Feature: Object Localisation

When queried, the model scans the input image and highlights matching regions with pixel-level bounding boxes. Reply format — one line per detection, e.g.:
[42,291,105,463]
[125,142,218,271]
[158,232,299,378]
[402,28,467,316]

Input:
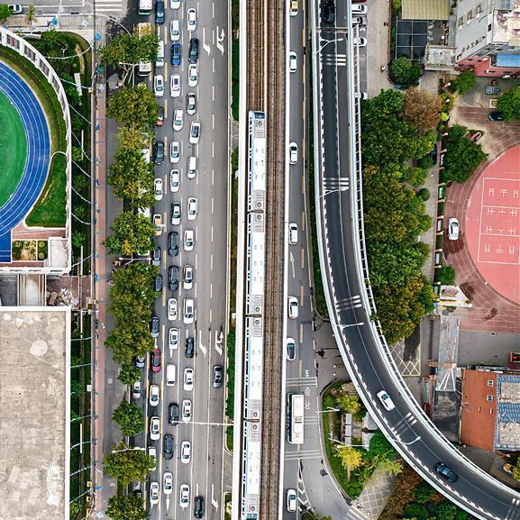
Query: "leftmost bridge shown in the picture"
[225,0,290,520]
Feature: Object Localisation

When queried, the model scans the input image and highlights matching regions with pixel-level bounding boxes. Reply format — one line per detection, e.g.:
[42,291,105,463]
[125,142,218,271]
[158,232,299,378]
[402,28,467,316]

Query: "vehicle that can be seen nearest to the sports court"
[446,218,459,240]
